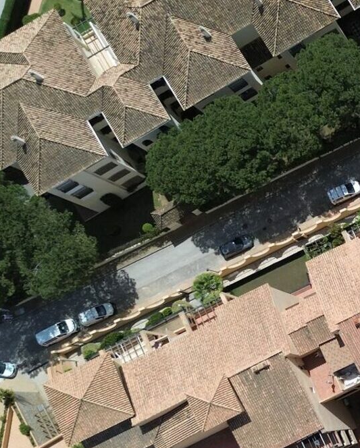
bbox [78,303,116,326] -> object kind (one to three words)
car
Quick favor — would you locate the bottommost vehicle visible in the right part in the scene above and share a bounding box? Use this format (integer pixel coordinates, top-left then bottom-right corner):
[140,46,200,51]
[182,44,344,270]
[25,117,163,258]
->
[217,234,255,259]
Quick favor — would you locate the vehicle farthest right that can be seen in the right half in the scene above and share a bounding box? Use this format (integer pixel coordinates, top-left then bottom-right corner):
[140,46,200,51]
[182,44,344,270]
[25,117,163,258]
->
[325,180,360,204]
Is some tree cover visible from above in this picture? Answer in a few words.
Yes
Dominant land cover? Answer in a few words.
buildings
